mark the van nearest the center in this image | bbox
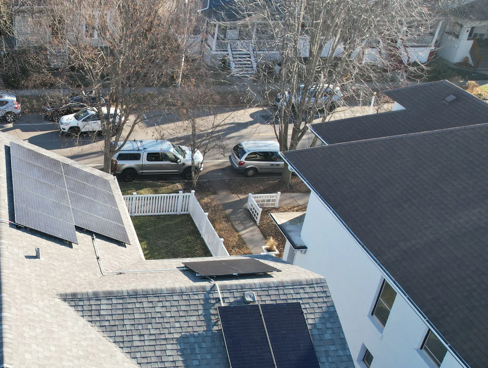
[225,136,286,175]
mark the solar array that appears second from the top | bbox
[182,258,282,278]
